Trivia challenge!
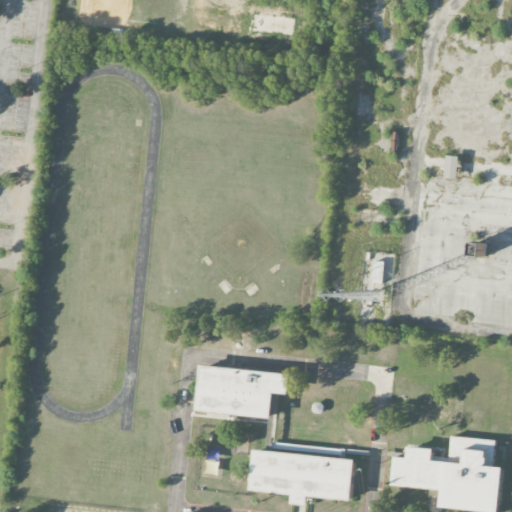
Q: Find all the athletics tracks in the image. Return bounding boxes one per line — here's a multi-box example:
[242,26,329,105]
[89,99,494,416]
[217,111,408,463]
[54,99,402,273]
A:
[34,64,162,431]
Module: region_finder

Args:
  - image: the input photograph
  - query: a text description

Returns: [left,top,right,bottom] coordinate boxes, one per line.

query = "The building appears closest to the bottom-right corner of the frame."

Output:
[387,436,504,512]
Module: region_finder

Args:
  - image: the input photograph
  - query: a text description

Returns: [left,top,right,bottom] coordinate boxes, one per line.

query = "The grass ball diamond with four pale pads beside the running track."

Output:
[164,105,312,296]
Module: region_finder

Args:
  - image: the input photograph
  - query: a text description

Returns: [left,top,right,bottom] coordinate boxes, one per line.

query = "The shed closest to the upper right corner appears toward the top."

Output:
[444,156,460,180]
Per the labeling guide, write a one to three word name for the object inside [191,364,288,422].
building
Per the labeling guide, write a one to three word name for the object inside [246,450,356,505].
building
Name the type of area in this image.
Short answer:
sports ground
